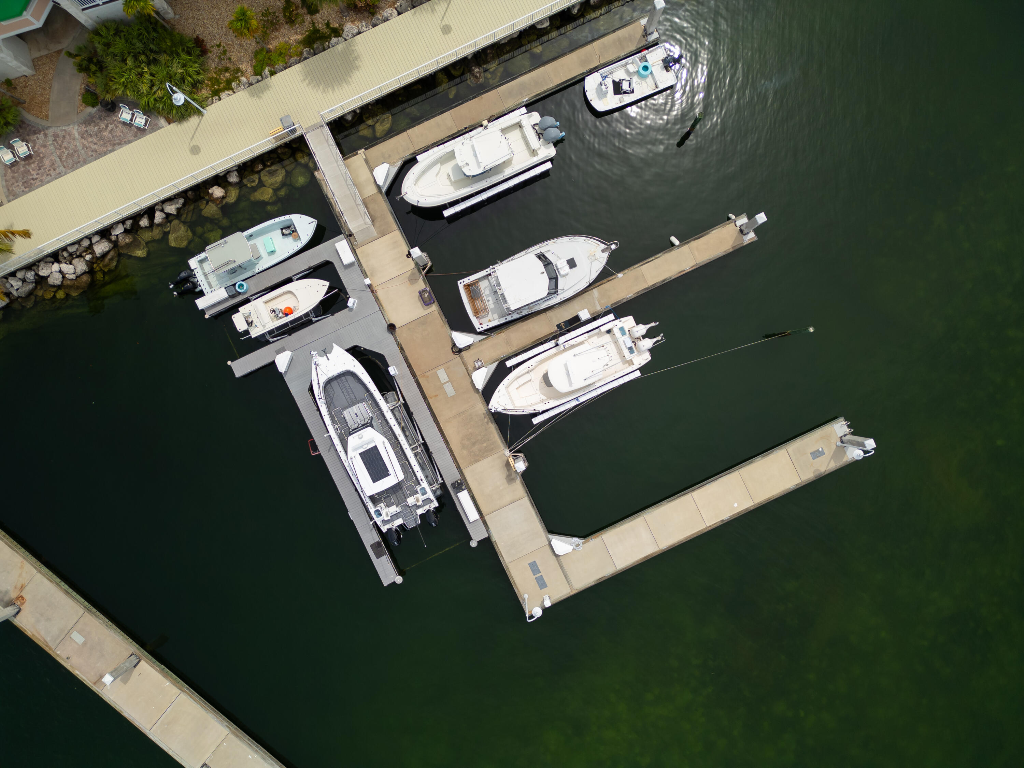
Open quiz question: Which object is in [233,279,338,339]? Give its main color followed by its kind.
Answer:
white boat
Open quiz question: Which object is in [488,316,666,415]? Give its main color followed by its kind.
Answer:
white boat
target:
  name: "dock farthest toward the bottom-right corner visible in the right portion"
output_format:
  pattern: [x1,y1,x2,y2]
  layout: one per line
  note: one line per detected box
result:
[560,416,857,593]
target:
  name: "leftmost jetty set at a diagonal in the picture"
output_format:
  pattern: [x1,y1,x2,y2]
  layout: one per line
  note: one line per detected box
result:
[0,525,292,768]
